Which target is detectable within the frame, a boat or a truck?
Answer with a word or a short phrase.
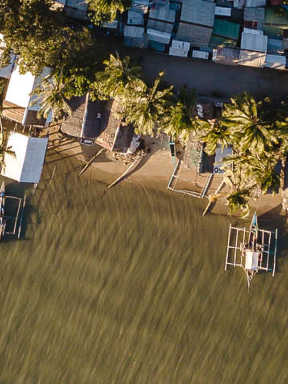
boat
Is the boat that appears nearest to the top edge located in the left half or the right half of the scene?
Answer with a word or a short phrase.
right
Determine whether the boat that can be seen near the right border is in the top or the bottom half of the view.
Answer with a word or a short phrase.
bottom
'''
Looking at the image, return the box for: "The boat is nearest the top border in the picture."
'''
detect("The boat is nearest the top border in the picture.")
[168,134,212,197]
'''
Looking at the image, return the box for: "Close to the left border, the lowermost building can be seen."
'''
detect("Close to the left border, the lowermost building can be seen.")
[1,129,48,183]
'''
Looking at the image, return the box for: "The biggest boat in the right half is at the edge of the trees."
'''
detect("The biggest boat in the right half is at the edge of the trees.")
[225,209,277,291]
